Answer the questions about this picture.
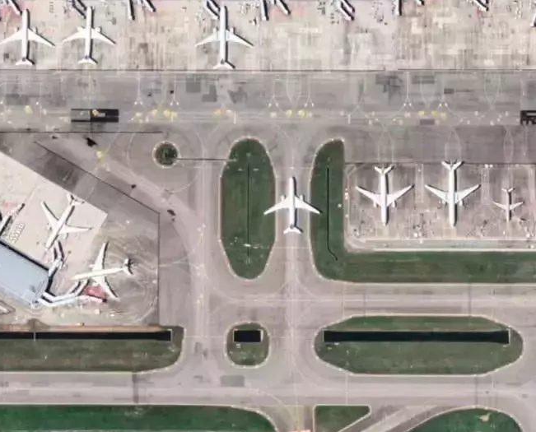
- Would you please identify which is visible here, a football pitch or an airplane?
airplane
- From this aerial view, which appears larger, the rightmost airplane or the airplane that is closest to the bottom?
the airplane that is closest to the bottom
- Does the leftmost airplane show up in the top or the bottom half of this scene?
top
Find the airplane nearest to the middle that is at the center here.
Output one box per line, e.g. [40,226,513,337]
[264,177,320,233]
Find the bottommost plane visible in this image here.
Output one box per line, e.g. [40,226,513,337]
[73,241,130,299]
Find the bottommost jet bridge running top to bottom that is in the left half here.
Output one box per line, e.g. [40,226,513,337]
[49,240,62,274]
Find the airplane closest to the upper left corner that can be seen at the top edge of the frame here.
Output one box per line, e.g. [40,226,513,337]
[0,10,53,66]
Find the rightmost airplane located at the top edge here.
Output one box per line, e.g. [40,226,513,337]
[194,5,251,69]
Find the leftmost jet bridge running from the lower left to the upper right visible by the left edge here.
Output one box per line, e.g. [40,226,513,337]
[0,204,26,239]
